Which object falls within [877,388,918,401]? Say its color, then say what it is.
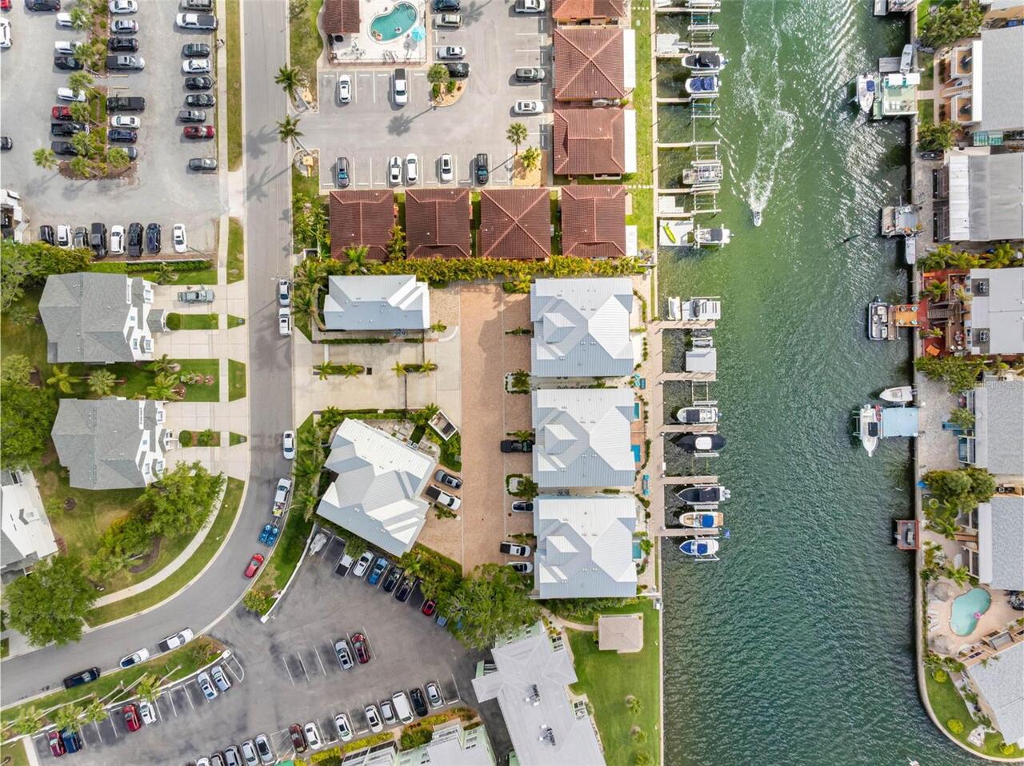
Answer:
white boat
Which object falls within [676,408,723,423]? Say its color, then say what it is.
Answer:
white boat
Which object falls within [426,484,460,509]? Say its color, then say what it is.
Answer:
white truck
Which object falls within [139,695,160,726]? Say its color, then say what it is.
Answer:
white car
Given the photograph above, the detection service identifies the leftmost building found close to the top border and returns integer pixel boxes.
[325,0,361,40]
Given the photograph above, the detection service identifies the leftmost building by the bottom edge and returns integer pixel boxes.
[342,726,413,766]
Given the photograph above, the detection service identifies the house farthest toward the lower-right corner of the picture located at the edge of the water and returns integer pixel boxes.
[952,619,1024,744]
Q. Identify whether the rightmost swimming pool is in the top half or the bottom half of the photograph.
bottom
